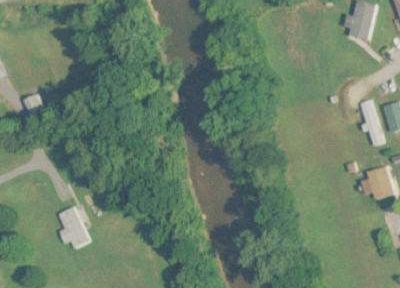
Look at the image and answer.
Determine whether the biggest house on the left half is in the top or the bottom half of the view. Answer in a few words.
bottom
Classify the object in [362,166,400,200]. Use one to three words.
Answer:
house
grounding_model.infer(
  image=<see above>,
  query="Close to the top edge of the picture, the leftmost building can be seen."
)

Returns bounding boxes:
[345,1,378,41]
